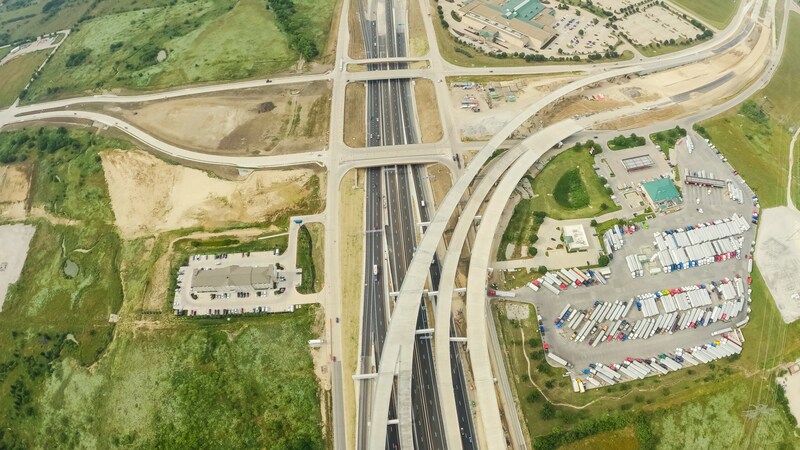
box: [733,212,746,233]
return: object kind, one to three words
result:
vehicle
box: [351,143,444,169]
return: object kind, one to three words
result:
overpass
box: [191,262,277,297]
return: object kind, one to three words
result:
building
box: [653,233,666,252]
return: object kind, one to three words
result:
vehicle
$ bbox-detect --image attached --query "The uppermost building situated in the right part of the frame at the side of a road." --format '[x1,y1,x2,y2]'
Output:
[459,0,559,56]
